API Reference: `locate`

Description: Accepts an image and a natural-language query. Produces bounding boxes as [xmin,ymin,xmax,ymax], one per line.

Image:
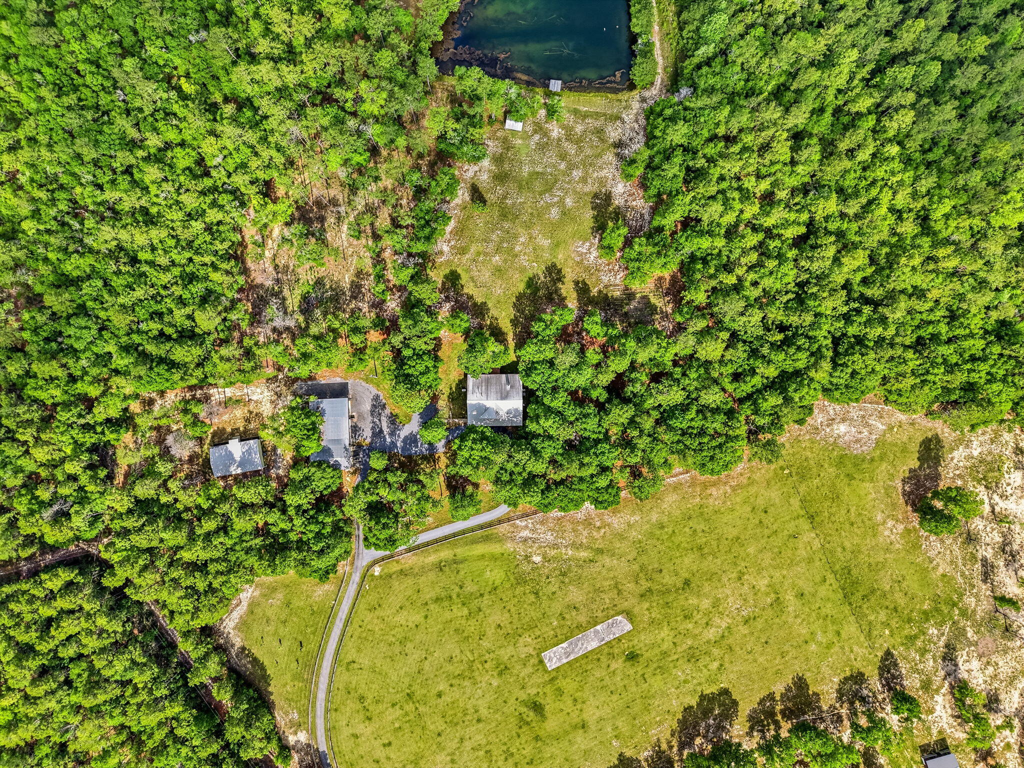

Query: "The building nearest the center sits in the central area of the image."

[467,374,523,426]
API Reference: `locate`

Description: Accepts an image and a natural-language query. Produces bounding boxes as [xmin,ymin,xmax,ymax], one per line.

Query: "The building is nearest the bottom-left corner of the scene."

[210,435,267,477]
